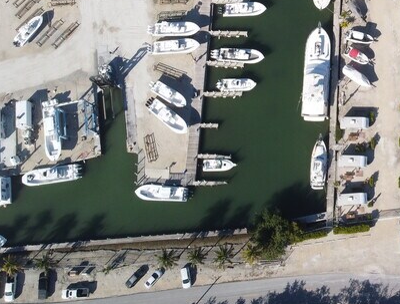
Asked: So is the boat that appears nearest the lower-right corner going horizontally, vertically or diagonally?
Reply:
vertically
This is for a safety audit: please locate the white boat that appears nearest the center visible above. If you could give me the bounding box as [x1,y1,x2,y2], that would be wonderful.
[199,159,239,171]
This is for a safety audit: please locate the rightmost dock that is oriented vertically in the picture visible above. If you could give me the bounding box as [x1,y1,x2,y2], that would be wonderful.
[185,0,214,179]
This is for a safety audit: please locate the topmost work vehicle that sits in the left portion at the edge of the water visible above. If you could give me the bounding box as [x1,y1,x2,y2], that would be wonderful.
[92,60,118,111]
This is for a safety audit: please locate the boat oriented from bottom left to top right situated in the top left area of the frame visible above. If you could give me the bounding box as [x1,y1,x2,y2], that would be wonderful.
[13,16,44,46]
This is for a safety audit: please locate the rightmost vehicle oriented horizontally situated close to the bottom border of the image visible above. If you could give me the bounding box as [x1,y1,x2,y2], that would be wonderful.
[62,286,91,298]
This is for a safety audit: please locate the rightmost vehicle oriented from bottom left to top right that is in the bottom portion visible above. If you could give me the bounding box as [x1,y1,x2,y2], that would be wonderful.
[145,266,166,289]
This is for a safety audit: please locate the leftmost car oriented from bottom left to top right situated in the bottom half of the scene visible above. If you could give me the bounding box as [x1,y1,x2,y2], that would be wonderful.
[126,265,149,288]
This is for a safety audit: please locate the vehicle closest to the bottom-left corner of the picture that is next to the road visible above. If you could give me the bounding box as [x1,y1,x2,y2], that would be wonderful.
[3,275,18,301]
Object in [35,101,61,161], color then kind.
white boat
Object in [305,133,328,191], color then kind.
white boat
